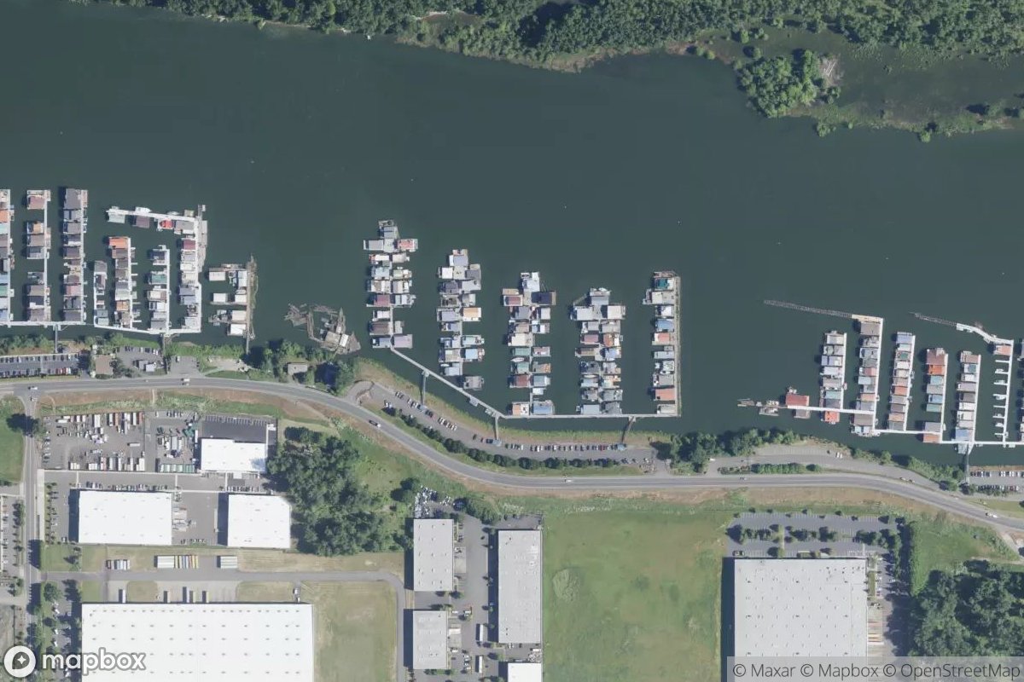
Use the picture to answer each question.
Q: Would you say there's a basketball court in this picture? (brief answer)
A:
No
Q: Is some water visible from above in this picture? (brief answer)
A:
Yes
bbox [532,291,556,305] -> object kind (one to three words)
house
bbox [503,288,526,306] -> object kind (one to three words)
house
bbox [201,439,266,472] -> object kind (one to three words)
building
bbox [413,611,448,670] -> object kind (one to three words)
building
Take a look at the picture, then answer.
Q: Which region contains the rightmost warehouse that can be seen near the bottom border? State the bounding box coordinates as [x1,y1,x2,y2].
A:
[734,559,867,682]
